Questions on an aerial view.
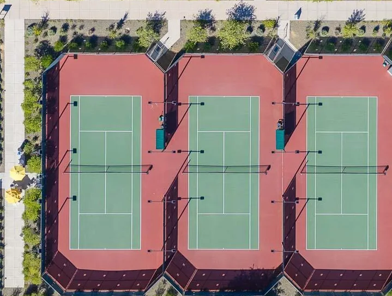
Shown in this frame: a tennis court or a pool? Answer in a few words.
tennis court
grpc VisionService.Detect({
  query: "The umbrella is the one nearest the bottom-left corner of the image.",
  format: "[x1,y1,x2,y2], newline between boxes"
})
[7,186,21,202]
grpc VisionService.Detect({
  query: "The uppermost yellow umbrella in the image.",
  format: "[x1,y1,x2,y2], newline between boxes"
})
[10,165,28,182]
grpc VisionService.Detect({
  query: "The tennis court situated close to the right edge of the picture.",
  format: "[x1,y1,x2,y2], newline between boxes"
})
[283,54,392,291]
